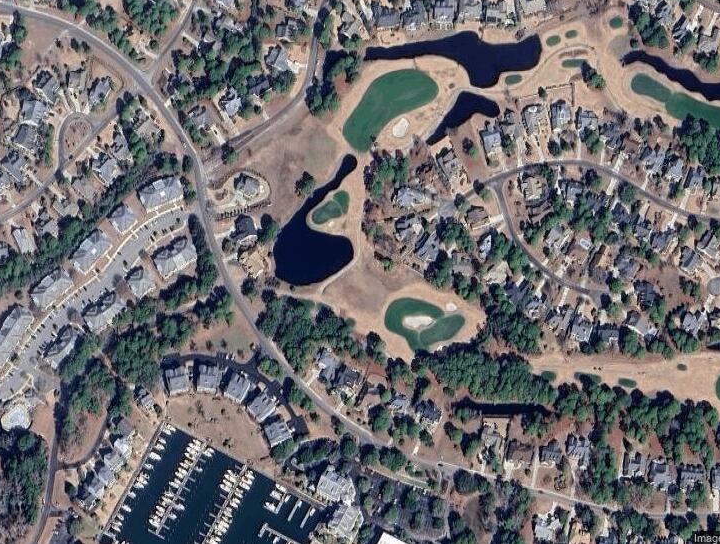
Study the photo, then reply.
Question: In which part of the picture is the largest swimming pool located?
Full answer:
The largest swimming pool is in the bottom left part of the image.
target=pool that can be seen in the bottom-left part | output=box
[4,404,28,427]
